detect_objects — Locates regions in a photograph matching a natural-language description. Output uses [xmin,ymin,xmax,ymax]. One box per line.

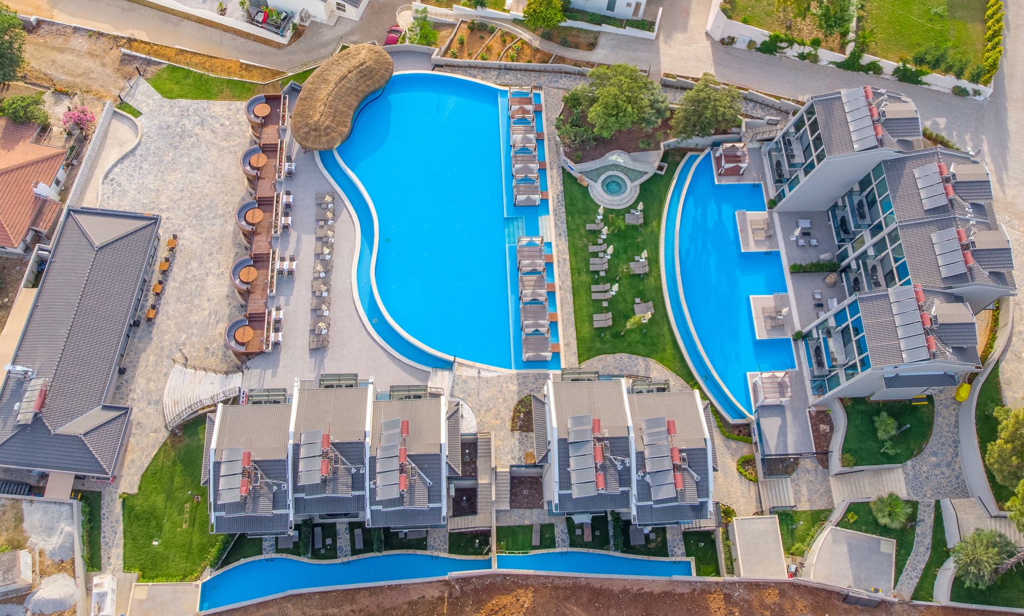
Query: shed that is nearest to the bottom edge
[0,550,35,596]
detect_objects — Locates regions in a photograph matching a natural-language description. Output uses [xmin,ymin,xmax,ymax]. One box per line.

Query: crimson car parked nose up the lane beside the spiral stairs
[379,20,406,49]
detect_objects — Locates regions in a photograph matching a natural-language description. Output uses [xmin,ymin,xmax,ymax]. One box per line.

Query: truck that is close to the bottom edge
[91,574,119,616]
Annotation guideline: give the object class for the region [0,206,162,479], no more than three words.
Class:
building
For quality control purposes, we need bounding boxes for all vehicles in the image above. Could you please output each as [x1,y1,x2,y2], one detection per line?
[379,20,406,49]
[91,574,119,616]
